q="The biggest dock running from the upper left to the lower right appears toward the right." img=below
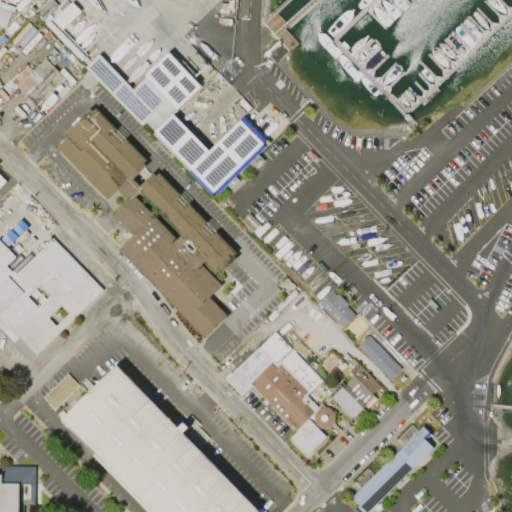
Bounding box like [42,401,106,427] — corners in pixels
[332,36,412,118]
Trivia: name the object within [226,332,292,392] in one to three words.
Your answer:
building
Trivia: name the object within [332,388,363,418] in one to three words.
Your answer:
house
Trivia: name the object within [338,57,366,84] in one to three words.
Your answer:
boat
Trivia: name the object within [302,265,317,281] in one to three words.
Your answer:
boat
